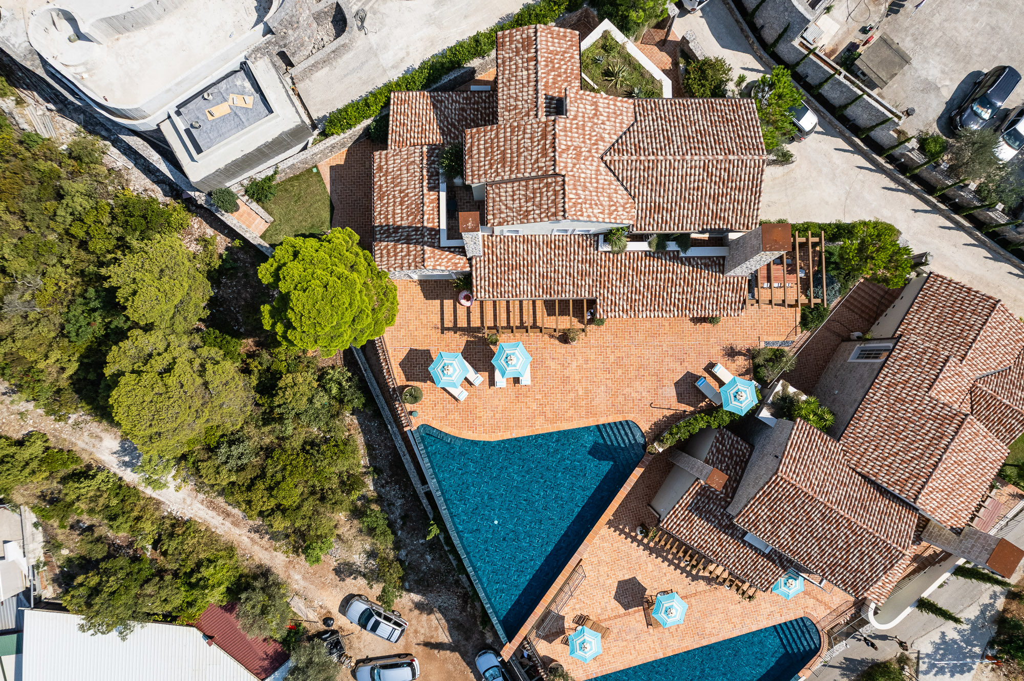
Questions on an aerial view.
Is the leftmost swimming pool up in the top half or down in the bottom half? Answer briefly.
bottom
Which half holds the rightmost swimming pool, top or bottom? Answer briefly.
bottom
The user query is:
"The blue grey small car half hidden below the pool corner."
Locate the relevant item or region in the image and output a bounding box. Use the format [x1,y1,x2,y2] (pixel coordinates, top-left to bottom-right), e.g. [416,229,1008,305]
[472,647,510,681]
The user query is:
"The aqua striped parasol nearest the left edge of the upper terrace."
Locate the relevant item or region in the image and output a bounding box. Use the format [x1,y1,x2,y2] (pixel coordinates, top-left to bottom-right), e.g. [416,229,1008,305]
[429,351,471,389]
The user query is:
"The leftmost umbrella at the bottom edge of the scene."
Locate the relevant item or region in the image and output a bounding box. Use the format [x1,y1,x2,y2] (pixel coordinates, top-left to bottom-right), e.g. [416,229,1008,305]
[569,624,602,662]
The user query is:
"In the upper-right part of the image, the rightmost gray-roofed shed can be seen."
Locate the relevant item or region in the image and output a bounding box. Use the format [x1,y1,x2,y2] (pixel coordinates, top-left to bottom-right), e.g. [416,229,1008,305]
[847,34,911,95]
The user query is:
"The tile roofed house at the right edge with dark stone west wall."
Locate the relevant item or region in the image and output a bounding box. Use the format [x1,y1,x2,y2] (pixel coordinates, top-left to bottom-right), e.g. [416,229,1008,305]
[807,272,1024,579]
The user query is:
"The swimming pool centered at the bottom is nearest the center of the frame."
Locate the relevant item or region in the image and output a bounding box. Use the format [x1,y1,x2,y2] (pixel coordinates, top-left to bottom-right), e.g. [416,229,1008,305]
[415,421,645,639]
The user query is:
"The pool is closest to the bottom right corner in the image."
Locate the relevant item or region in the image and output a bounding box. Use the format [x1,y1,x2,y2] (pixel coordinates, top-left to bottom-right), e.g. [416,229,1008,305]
[588,619,820,681]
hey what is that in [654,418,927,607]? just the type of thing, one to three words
house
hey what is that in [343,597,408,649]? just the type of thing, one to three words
car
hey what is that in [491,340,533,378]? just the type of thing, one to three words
umbrella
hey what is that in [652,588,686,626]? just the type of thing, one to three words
umbrella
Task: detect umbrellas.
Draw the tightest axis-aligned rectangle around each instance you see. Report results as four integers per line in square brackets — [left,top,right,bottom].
[772,568,802,601]
[714,375,755,416]
[491,340,533,378]
[652,588,686,626]
[429,351,471,389]
[569,624,602,662]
